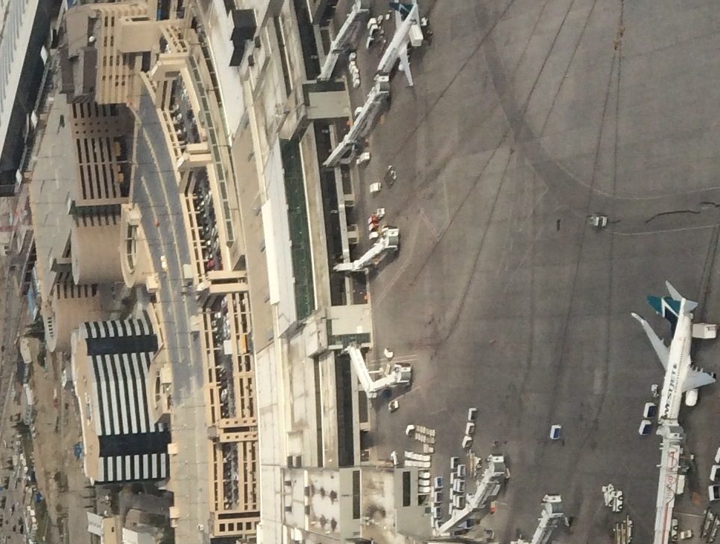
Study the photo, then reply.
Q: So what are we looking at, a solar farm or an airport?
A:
airport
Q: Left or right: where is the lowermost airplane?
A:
right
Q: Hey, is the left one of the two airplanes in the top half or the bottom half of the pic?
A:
top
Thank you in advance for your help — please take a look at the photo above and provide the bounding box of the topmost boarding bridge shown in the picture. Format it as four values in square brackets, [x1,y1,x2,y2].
[322,0,377,84]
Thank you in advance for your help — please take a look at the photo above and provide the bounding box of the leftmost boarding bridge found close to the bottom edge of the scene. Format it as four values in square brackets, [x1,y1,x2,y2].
[434,454,518,539]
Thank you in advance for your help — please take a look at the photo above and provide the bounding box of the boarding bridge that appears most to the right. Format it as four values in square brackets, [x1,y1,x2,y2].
[657,417,708,544]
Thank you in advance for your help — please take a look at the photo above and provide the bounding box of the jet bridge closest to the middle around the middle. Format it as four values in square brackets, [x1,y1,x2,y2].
[336,229,406,275]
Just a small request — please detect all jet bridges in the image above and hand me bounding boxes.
[336,229,406,275]
[347,342,421,393]
[322,0,377,84]
[657,417,708,544]
[327,71,399,168]
[434,454,518,539]
[534,490,577,544]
